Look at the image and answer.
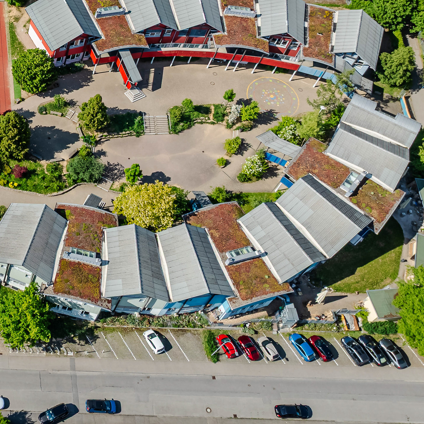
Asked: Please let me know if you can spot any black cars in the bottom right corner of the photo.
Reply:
Yes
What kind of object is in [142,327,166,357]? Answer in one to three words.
car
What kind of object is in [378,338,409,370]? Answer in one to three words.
car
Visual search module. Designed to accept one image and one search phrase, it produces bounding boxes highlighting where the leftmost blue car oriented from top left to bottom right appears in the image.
[288,332,317,364]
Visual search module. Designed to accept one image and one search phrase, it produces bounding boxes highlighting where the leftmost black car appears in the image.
[36,402,71,424]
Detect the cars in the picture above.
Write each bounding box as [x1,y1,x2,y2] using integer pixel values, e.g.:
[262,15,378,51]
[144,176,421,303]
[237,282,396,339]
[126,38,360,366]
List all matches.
[358,335,389,367]
[36,402,71,424]
[378,338,409,370]
[272,401,314,421]
[215,332,241,361]
[85,398,118,415]
[142,327,166,357]
[308,334,334,364]
[341,335,370,367]
[288,332,317,364]
[256,334,281,364]
[236,334,261,362]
